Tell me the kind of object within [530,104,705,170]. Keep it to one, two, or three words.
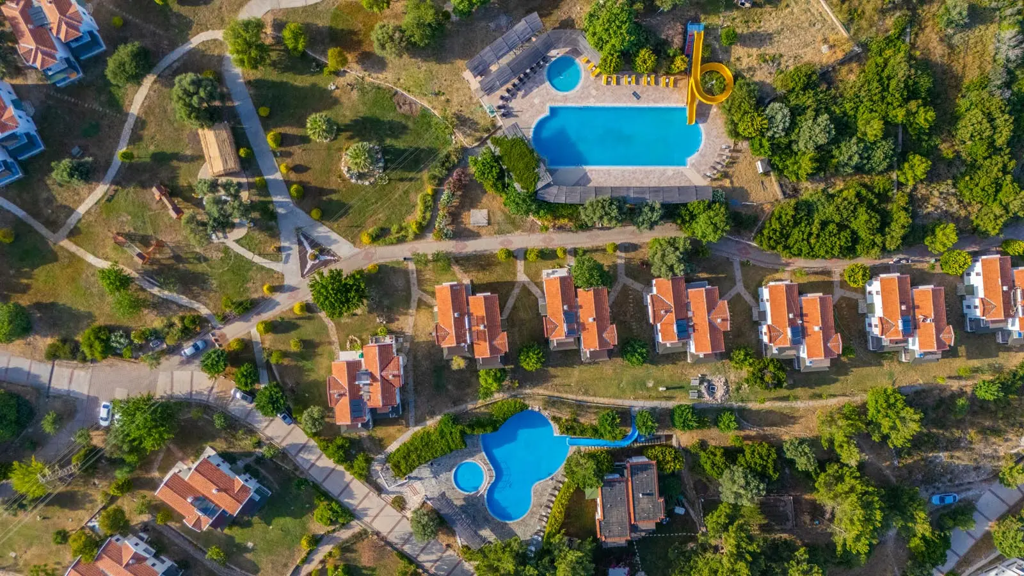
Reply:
swimming pool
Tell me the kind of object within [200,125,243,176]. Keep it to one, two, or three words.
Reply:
building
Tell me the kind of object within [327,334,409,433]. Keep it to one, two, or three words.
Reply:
house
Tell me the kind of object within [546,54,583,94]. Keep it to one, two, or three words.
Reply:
swimming pool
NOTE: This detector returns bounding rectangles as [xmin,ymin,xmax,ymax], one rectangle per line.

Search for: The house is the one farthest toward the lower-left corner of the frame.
[62,517,188,576]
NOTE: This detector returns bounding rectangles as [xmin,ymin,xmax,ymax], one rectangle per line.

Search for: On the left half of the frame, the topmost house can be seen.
[3,0,109,92]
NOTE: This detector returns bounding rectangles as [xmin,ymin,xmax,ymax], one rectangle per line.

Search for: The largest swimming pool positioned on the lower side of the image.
[478,408,572,523]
